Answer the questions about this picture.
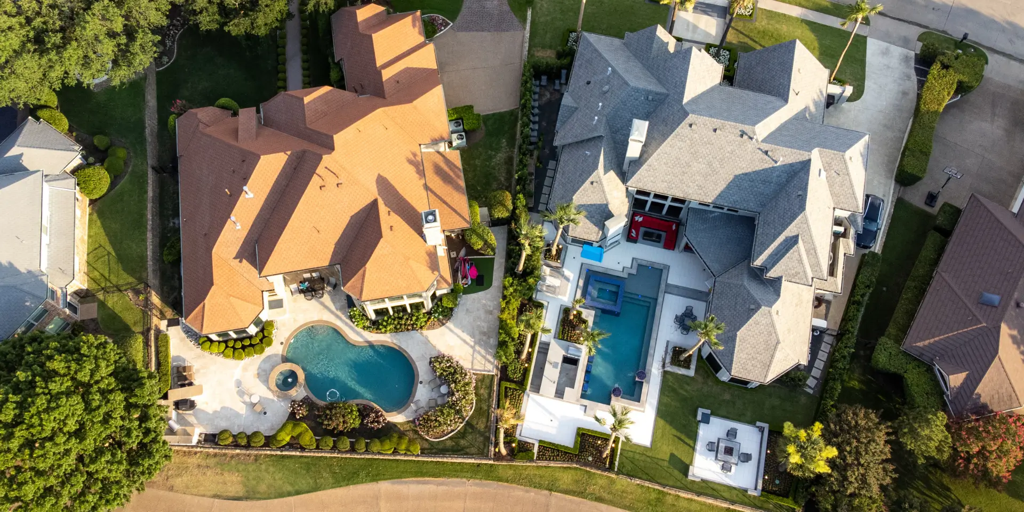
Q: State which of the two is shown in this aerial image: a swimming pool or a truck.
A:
swimming pool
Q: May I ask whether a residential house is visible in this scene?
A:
Yes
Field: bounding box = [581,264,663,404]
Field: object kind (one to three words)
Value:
swimming pool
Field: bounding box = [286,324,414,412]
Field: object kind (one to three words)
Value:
swimming pool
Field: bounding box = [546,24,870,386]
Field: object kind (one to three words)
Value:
house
